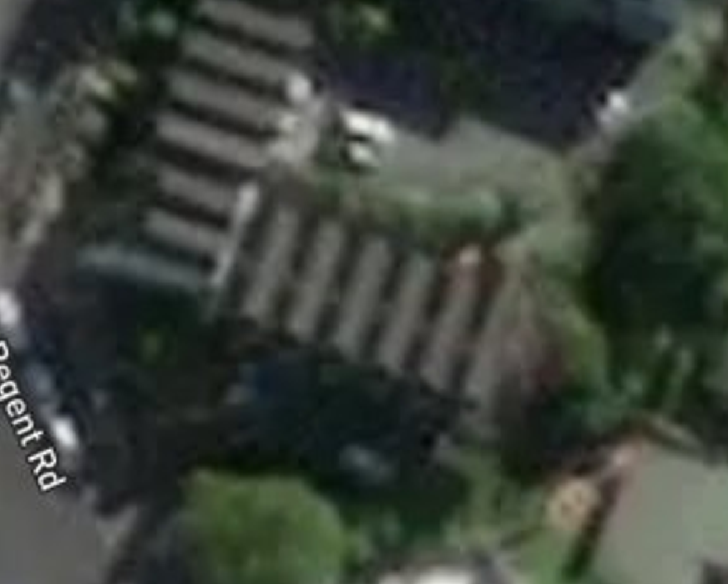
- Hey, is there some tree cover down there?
Yes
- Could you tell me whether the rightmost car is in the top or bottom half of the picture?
top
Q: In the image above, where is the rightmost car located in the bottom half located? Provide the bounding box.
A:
[331,440,387,483]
